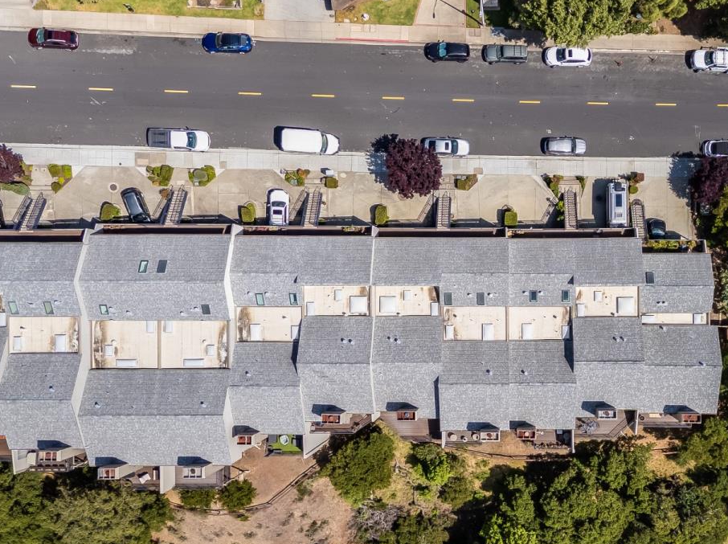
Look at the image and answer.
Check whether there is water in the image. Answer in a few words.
No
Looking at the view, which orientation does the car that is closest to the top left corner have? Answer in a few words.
horizontally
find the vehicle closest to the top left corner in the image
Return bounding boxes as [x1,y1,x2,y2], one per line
[26,24,84,53]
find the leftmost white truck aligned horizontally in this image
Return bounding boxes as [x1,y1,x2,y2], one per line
[146,126,214,153]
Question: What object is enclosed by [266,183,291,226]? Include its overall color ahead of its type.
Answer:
white car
